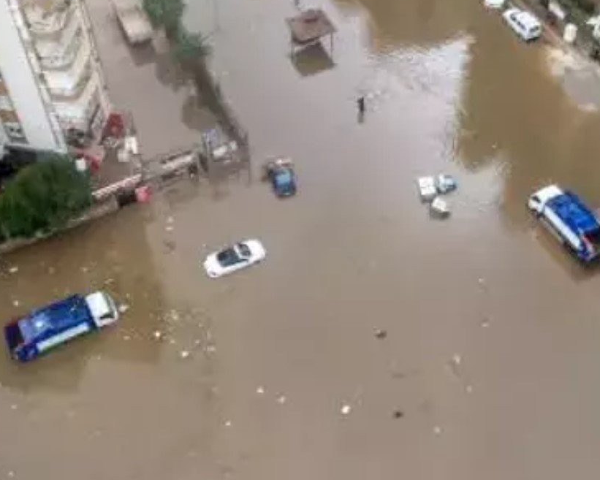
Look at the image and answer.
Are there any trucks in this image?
Yes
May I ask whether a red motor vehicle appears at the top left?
No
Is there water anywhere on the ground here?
Yes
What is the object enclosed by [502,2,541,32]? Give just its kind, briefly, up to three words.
car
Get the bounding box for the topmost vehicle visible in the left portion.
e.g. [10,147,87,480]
[111,0,151,38]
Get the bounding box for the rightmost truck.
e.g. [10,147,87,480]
[536,190,600,270]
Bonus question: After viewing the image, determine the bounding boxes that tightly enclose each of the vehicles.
[502,2,541,32]
[536,190,600,270]
[265,163,298,199]
[0,292,113,369]
[203,234,266,272]
[111,0,151,38]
